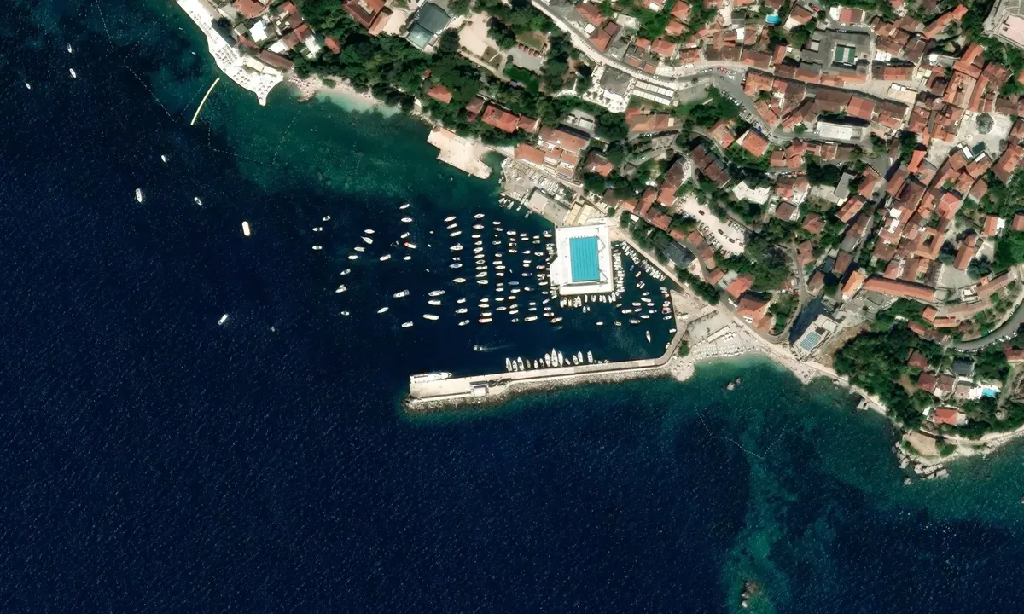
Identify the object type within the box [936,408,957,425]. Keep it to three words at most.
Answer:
house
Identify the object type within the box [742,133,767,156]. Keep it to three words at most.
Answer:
house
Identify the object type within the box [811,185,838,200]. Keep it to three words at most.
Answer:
building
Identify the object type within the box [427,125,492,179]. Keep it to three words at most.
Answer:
pier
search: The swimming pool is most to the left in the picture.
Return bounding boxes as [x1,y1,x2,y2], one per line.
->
[550,223,614,295]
